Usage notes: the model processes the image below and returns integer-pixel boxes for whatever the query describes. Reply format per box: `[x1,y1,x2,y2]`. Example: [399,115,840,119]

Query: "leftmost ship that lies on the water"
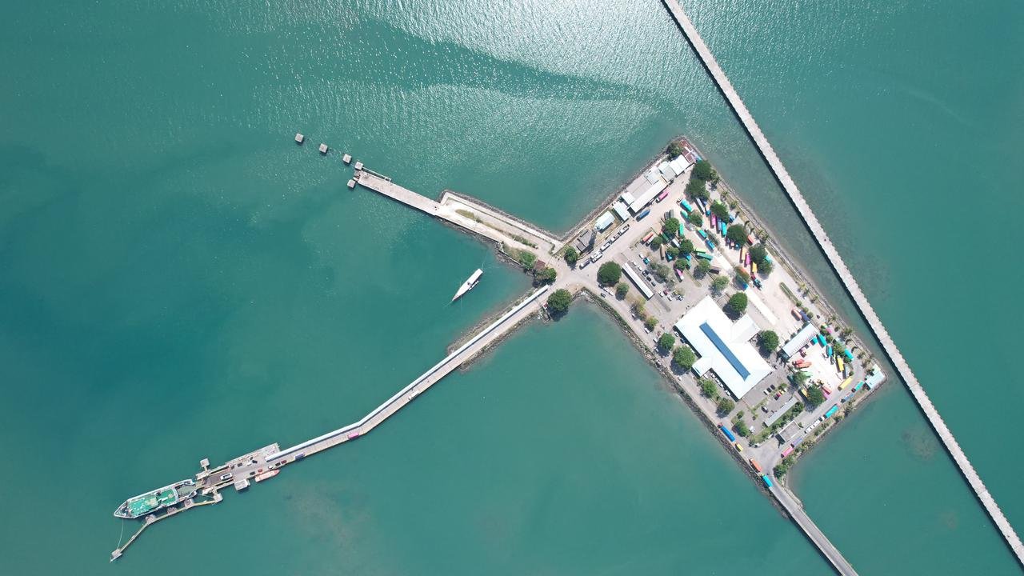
[115,478,199,518]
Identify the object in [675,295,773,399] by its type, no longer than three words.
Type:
building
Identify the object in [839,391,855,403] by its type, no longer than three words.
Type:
vehicle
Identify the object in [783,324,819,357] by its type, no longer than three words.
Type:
shed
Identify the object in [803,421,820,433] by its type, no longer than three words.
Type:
vehicle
